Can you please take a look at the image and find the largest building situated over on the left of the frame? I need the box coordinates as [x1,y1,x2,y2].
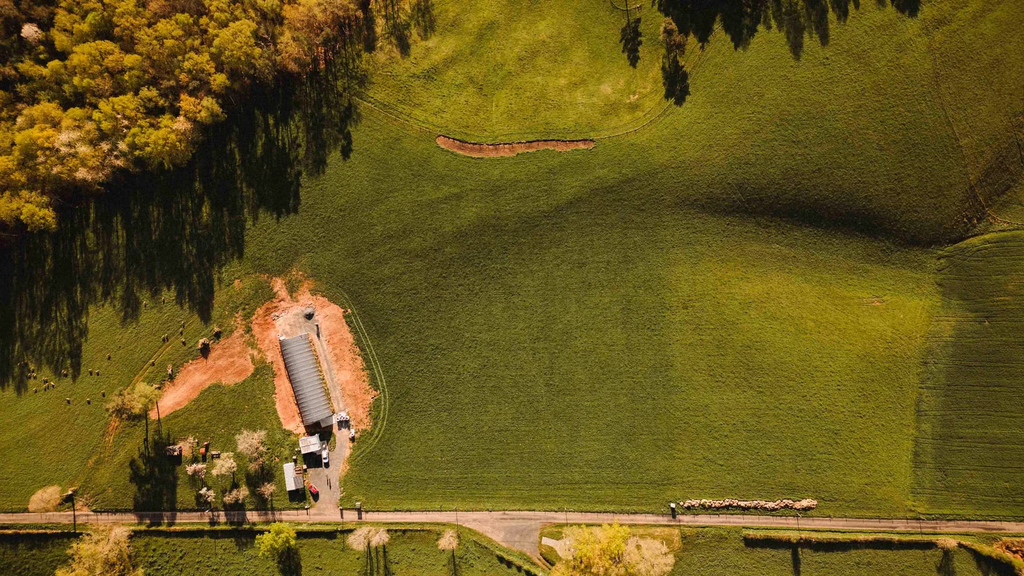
[279,333,336,426]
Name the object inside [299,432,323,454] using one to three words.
shed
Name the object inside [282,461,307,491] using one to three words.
shed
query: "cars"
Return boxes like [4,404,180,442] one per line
[323,451,331,464]
[307,484,319,496]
